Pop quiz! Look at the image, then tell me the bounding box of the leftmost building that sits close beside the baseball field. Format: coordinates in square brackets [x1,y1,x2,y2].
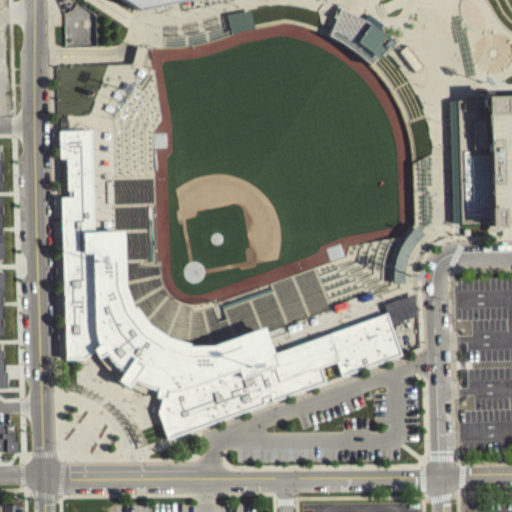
[58,130,97,361]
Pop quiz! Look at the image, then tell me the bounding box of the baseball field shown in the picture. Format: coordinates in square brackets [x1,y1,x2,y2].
[151,26,412,308]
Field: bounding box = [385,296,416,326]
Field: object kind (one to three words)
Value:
building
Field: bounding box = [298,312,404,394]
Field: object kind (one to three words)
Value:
building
